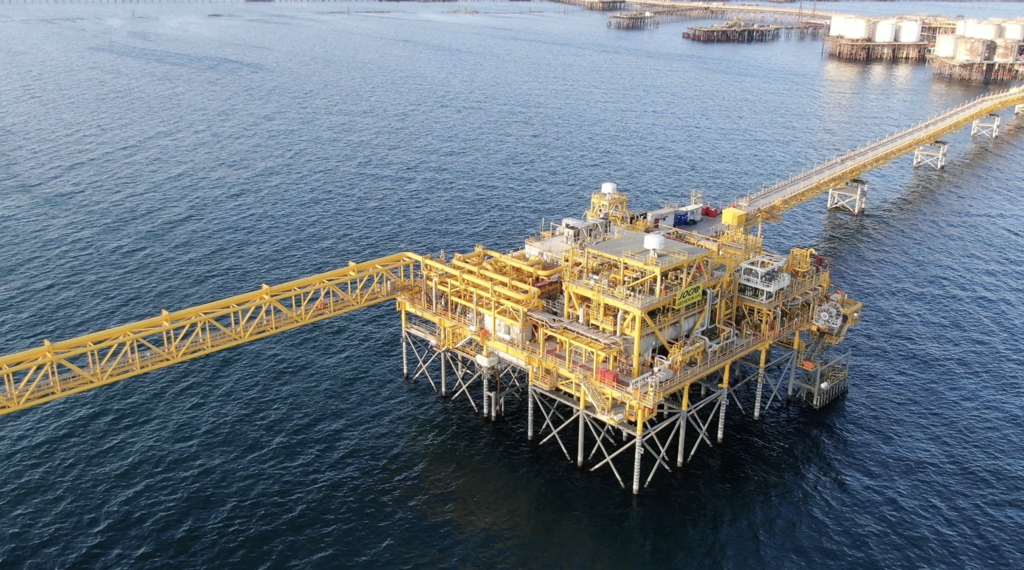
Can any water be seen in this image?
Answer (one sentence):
Yes, water can be seen from above here.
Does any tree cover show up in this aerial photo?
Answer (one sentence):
No, the picture contains no tree cover.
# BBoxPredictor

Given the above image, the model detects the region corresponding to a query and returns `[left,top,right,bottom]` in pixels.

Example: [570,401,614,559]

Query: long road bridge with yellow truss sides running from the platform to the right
[729,85,1024,216]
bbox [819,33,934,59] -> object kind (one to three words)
pier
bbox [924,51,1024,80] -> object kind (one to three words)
pier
